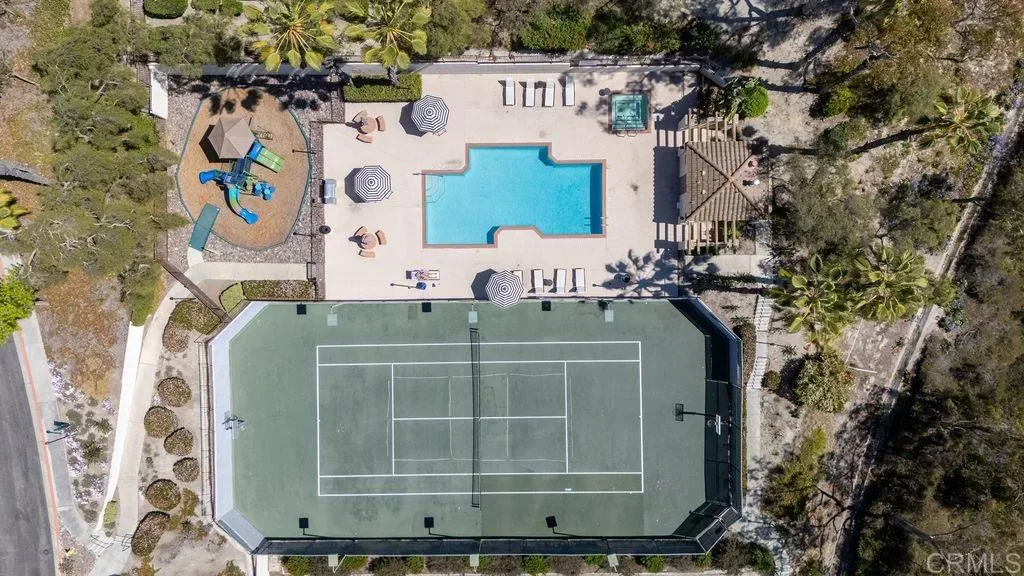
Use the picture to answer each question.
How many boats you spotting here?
0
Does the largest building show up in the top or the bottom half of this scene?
top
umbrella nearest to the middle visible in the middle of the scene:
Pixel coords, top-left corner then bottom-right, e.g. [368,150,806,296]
[487,270,523,306]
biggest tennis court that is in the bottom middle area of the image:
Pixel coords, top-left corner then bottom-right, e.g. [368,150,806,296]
[229,299,732,542]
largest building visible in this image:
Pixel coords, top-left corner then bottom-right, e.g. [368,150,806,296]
[681,140,760,223]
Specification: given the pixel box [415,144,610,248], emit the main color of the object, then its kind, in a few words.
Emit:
blue swimming pool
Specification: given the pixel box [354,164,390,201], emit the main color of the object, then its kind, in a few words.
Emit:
white umbrella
